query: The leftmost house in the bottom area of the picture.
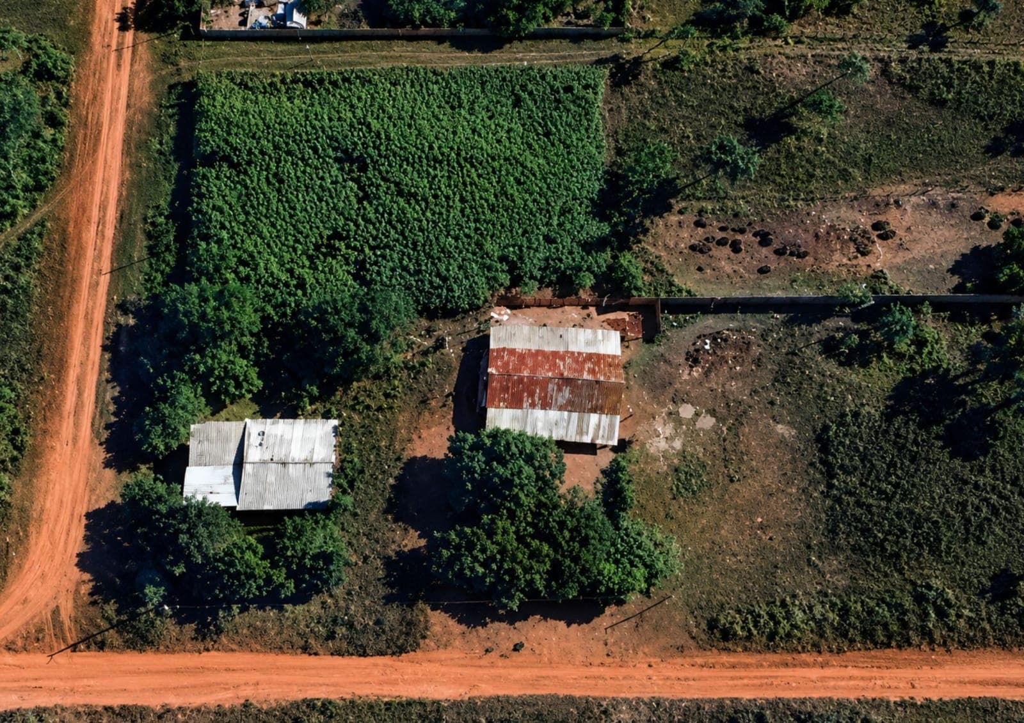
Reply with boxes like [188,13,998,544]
[184,419,339,511]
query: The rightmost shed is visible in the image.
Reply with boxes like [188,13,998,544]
[605,312,642,341]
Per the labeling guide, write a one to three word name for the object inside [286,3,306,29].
shed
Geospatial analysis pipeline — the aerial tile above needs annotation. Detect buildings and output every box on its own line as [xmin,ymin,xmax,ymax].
[286,3,306,29]
[477,325,625,447]
[184,419,339,511]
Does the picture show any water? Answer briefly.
No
